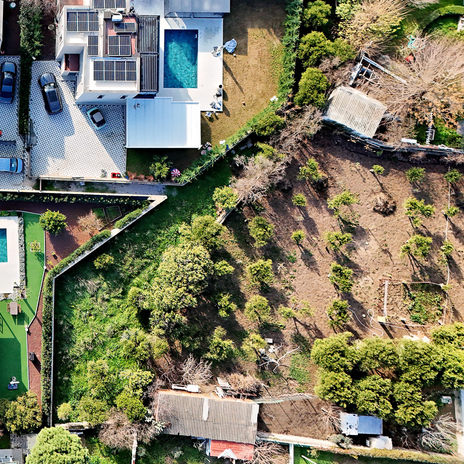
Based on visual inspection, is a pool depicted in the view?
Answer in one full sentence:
Yes, the frame does contain a pool.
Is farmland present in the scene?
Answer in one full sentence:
Yes, there's farmland in this view.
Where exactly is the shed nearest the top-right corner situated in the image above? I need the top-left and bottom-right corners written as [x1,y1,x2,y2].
[315,83,389,137]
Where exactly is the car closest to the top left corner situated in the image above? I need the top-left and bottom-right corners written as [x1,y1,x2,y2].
[0,64,17,103]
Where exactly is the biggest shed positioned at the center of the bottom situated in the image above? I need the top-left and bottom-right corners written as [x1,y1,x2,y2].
[154,390,259,445]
